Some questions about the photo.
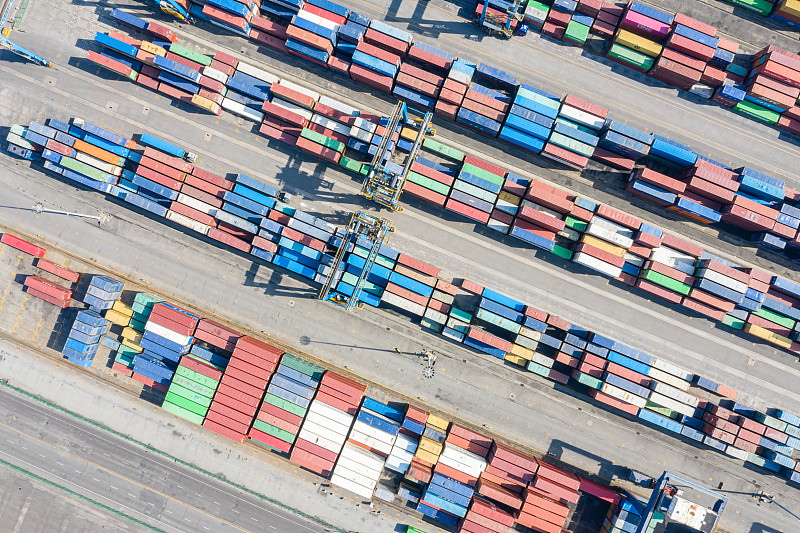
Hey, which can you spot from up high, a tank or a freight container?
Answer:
freight container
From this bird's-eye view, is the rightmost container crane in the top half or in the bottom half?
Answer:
bottom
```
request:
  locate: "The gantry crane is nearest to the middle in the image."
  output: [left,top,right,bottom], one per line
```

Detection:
[312,205,405,319]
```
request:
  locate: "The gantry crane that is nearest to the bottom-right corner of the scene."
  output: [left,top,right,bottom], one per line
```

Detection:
[613,467,731,533]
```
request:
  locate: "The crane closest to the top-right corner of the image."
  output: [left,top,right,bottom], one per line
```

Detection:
[466,0,523,41]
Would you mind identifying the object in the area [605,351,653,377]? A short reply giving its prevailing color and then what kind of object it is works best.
blue shipping container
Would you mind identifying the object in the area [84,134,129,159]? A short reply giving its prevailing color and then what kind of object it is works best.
blue shipping container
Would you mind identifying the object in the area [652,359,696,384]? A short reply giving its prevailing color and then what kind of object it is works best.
white shipping container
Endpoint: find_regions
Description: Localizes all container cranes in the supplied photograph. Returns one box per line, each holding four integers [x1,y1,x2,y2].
[466,0,523,41]
[145,0,197,29]
[359,97,443,215]
[613,467,731,533]
[0,0,61,70]
[312,205,405,319]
